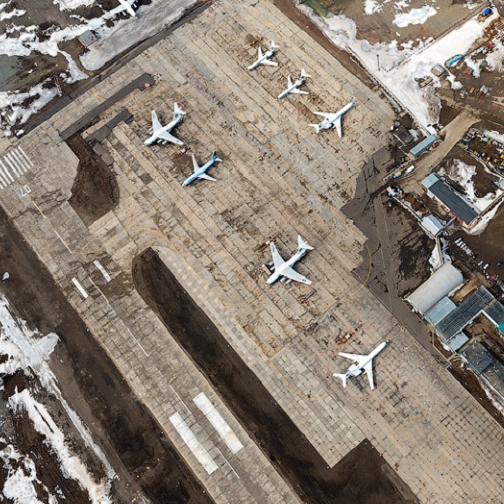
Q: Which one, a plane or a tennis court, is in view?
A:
plane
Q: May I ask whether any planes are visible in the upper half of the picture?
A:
Yes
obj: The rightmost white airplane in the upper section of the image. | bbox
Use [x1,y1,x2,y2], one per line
[308,102,356,138]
